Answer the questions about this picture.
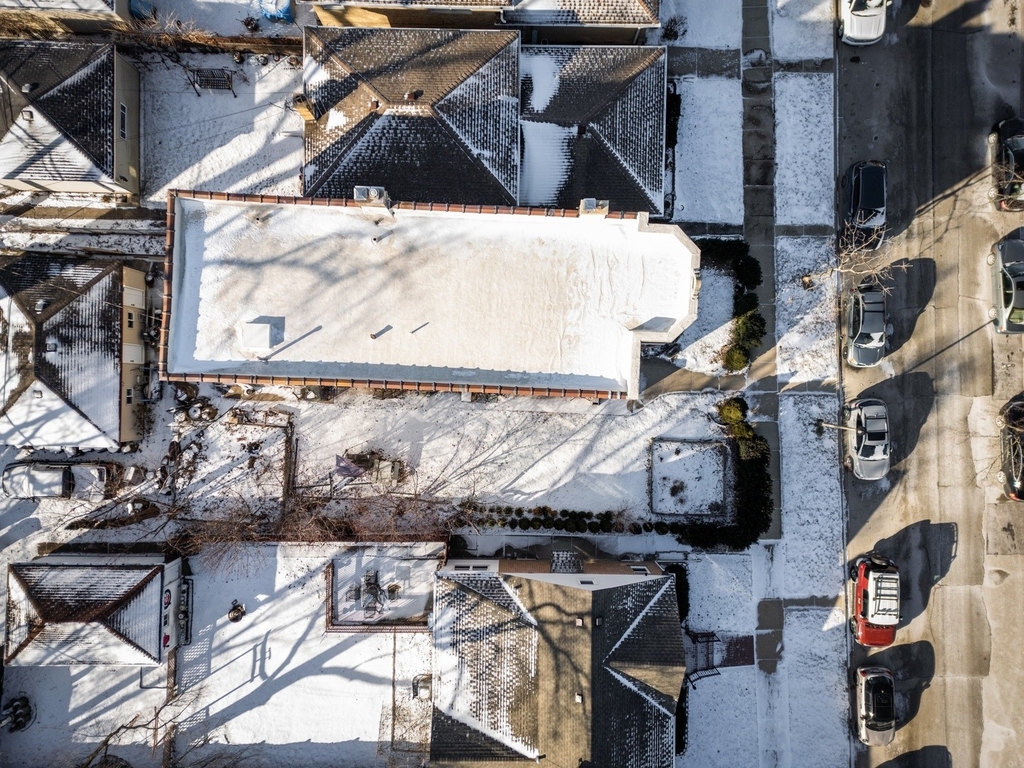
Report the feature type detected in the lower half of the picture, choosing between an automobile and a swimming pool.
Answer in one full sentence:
It is an automobile that can be seen in the lower half of the picture.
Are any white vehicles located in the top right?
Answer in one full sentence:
Yes, I can see a white vehicle in the top right.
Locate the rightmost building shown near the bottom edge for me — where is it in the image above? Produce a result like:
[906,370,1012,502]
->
[430,543,686,768]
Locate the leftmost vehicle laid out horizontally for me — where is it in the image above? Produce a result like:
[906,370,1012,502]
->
[7,460,116,505]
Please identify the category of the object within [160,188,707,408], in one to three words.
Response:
building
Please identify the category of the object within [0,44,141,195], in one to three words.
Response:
building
